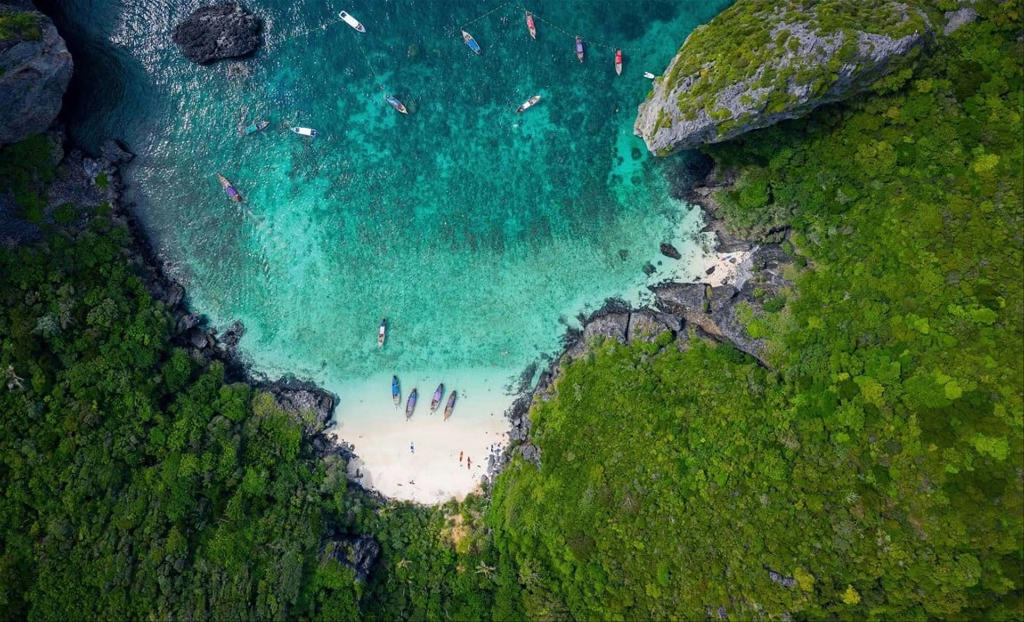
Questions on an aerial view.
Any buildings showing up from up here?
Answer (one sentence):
No, the picture doesn't show any building.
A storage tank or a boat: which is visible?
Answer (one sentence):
I can see a boat in this picture.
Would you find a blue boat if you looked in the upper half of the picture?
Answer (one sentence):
Yes, you'll find a blue boat in the upper half of the picture.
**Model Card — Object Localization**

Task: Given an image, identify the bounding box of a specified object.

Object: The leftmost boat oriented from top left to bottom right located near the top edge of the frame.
[339,10,365,32]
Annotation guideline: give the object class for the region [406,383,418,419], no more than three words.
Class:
boat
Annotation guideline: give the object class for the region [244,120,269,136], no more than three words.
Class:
boat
